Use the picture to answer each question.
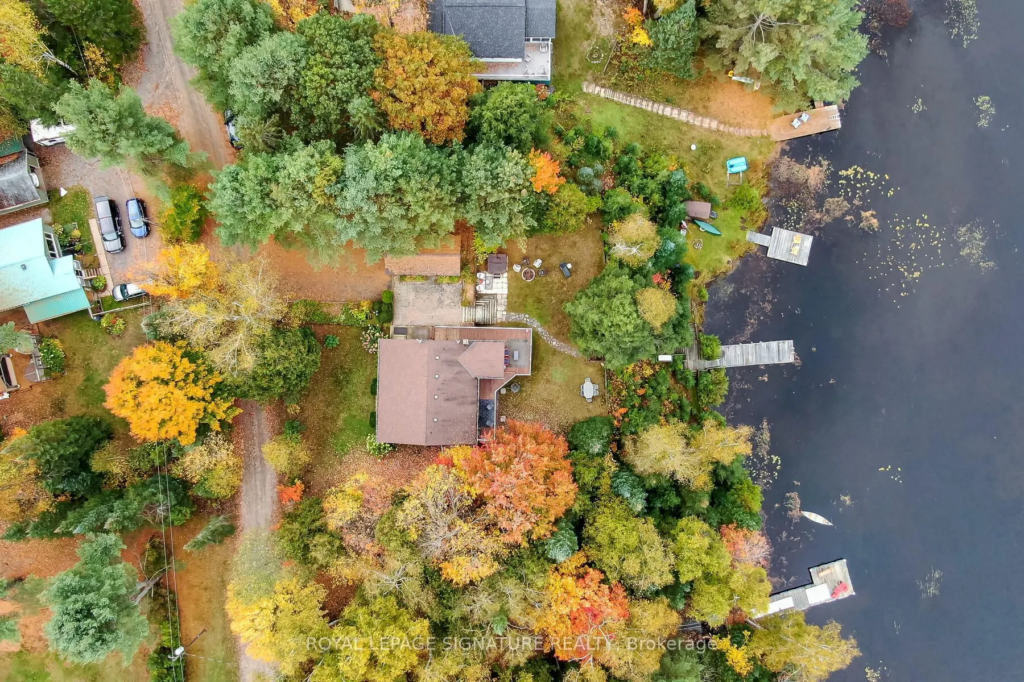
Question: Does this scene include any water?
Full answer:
Yes, water shows up in the scene.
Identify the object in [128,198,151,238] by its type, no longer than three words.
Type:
car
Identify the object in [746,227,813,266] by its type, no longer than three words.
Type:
pier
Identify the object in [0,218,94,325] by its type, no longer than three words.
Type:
house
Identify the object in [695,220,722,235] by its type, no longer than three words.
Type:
boat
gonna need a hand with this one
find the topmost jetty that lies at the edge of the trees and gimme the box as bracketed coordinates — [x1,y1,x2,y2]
[769,96,841,142]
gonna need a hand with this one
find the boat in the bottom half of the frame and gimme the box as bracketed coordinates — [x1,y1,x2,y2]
[800,510,833,526]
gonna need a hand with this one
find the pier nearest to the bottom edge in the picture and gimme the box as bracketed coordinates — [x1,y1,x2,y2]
[750,558,856,621]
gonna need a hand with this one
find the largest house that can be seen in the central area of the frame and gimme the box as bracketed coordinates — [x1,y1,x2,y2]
[375,326,532,446]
